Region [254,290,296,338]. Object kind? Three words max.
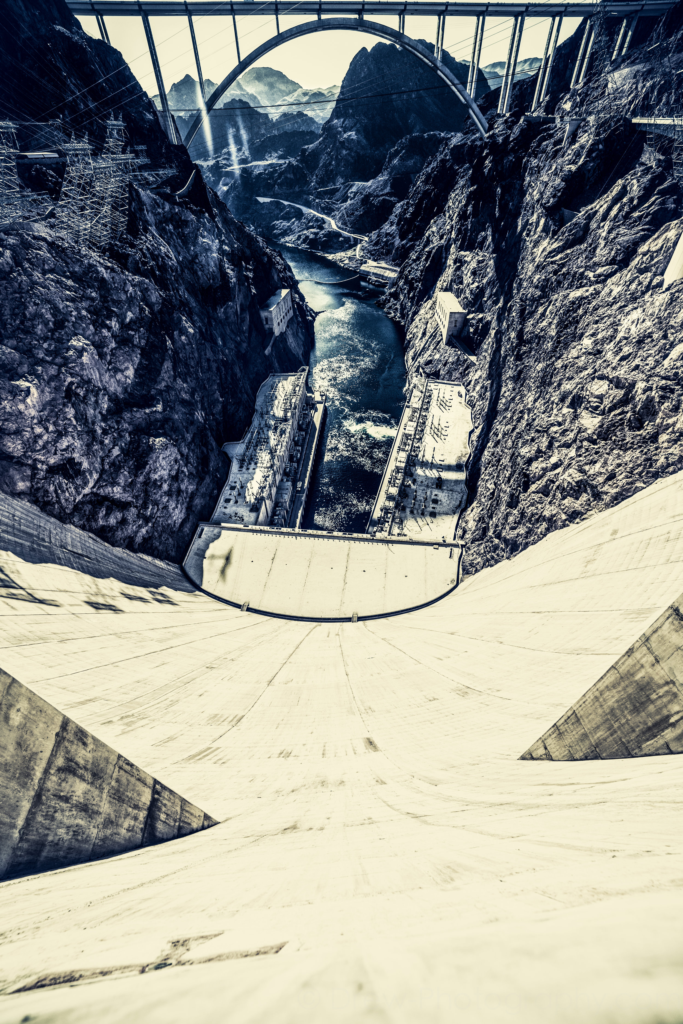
building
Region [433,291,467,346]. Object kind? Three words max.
building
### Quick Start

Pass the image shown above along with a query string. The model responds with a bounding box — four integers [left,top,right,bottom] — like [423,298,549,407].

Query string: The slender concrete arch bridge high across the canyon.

[85,0,671,149]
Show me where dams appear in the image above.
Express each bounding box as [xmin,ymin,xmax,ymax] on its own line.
[0,462,683,1024]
